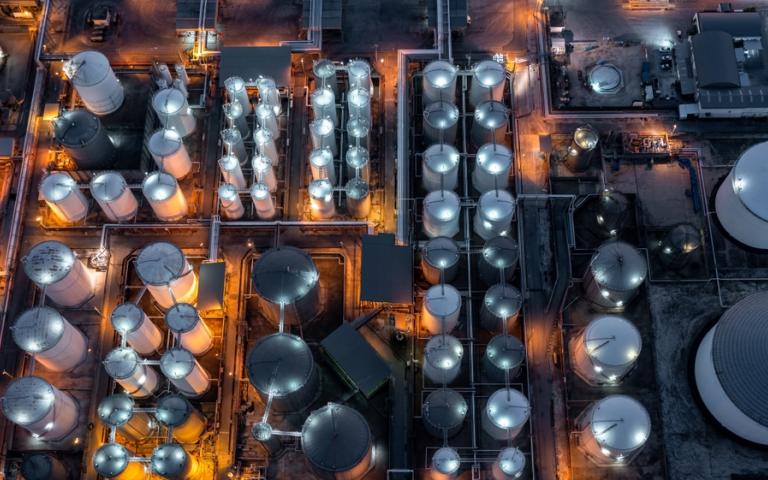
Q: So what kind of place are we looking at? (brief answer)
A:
industrial area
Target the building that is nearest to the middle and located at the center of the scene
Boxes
[362,234,412,311]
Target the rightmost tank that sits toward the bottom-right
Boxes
[684,286,768,460]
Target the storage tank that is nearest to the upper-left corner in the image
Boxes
[69,50,129,113]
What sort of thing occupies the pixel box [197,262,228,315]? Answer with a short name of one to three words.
building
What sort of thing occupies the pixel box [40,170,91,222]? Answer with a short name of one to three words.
storage tank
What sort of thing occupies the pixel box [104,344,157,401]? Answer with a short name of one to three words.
storage tank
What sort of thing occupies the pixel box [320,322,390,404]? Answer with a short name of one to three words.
shed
